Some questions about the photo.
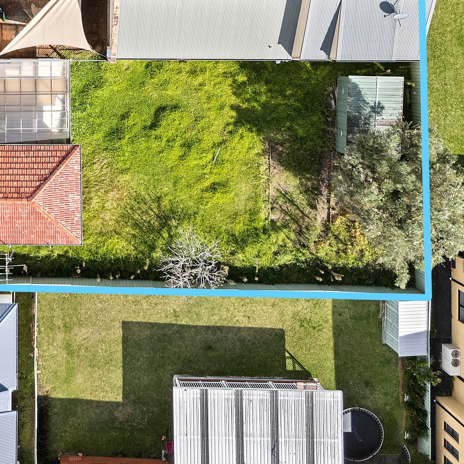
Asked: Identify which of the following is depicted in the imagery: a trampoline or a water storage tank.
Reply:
trampoline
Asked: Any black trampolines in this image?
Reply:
Yes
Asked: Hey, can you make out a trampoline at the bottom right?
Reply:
Yes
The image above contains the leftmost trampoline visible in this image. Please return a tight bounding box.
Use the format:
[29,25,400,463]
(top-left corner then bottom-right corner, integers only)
[344,408,384,455]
